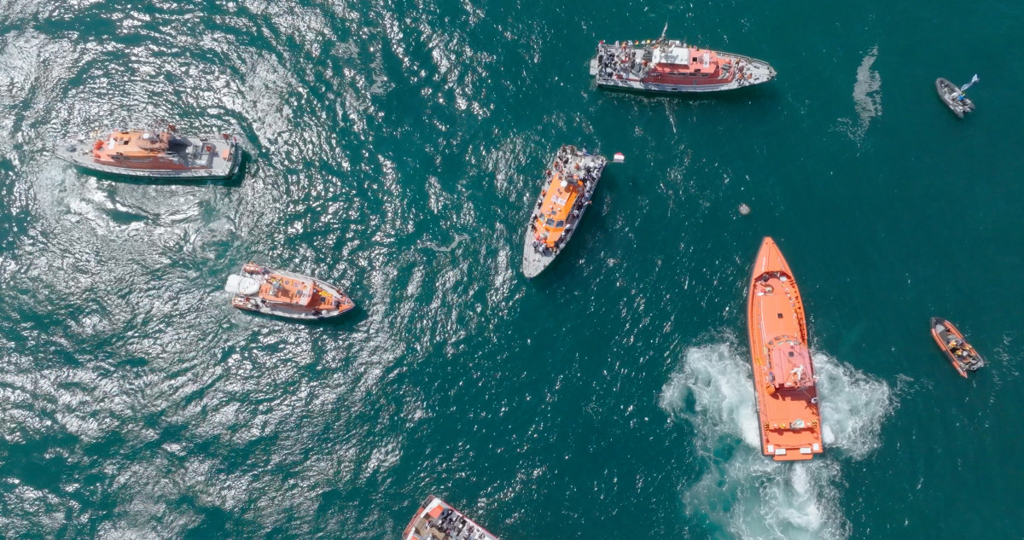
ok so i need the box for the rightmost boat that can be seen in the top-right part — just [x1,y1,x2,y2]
[935,76,977,121]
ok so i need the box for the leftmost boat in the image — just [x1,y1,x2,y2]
[56,122,245,179]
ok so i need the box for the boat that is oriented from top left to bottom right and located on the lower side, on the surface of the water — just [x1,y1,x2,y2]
[927,318,988,381]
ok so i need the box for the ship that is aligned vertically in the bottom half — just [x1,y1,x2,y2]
[746,236,831,464]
